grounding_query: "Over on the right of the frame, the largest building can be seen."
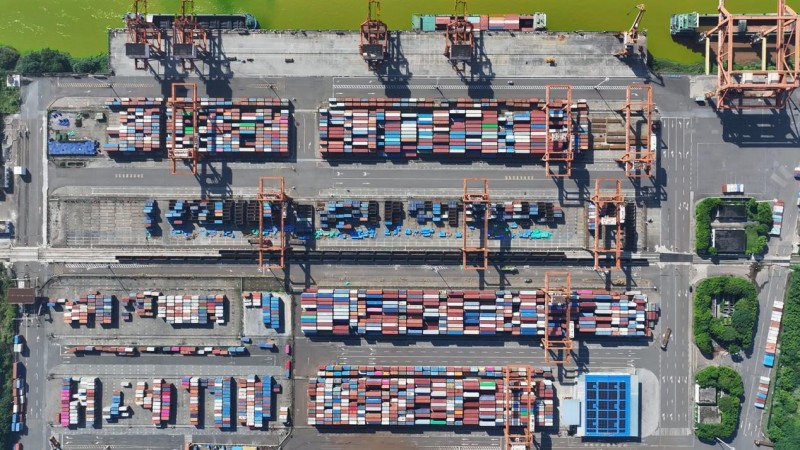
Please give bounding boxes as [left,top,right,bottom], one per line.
[576,372,640,436]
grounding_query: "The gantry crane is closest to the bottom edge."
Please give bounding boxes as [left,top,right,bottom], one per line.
[497,366,536,450]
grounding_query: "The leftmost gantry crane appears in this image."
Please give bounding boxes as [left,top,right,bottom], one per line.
[122,0,170,71]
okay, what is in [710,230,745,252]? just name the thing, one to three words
building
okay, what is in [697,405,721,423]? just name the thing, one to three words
shed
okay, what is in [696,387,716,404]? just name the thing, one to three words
shed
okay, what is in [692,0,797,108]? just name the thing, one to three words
crane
